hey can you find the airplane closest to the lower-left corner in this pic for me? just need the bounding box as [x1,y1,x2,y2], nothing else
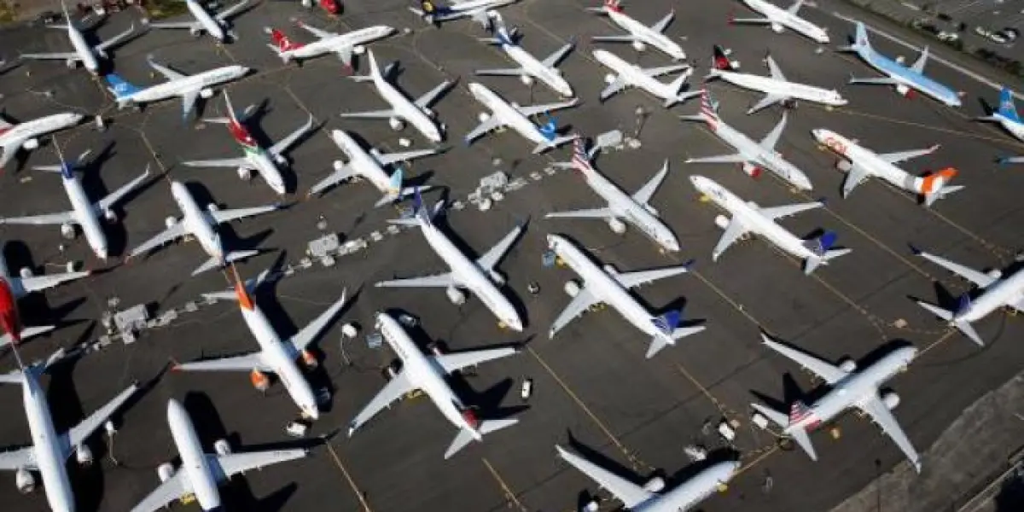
[0,342,145,512]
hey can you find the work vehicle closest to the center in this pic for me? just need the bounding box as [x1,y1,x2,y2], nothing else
[526,283,540,296]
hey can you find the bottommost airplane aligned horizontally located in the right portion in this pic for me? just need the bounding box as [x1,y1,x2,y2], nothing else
[560,436,739,512]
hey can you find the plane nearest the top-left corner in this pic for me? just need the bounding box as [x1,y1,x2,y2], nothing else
[19,3,137,77]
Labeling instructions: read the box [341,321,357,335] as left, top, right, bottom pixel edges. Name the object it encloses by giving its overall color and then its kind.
white work vehicle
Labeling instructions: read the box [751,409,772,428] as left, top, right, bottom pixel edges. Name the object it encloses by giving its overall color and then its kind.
white vehicle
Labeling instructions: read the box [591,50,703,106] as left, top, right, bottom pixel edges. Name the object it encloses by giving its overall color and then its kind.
white airplane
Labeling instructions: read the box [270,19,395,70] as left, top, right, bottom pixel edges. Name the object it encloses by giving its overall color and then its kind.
white airplane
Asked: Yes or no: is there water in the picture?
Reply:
No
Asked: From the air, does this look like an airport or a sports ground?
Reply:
airport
